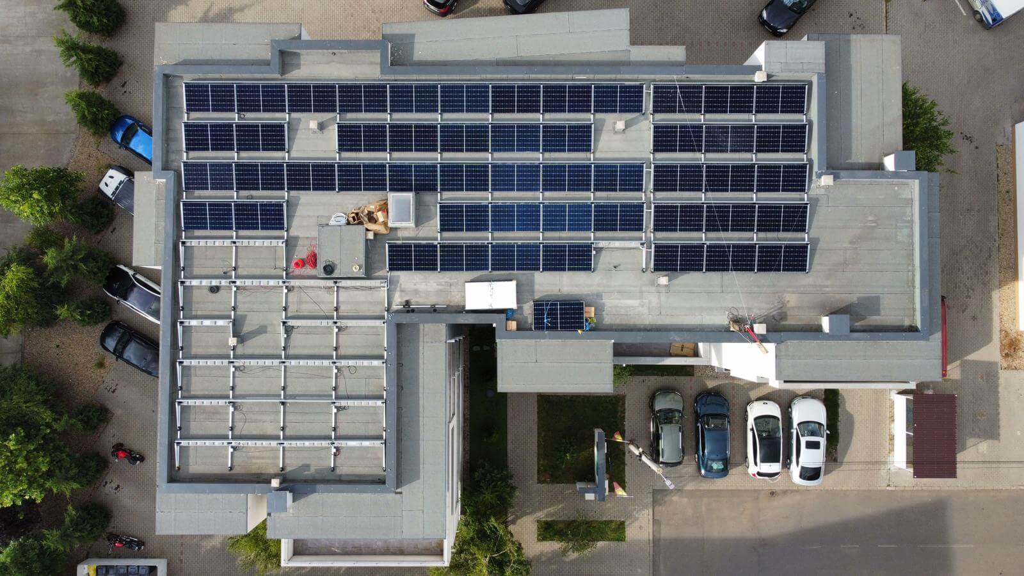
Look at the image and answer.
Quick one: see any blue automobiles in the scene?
Yes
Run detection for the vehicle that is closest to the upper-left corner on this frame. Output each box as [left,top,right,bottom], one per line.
[108,113,153,163]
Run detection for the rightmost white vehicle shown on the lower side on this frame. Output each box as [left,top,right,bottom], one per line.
[788,397,832,485]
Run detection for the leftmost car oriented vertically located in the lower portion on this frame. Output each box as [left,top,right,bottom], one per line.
[651,389,690,467]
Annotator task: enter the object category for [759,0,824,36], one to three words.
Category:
car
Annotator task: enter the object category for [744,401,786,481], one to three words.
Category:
car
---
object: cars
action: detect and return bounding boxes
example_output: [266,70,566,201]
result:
[99,326,161,385]
[651,389,690,467]
[692,392,733,478]
[100,267,162,325]
[508,0,547,15]
[788,397,832,485]
[744,401,786,481]
[759,0,824,36]
[108,113,153,163]
[424,0,464,19]
[99,166,135,213]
